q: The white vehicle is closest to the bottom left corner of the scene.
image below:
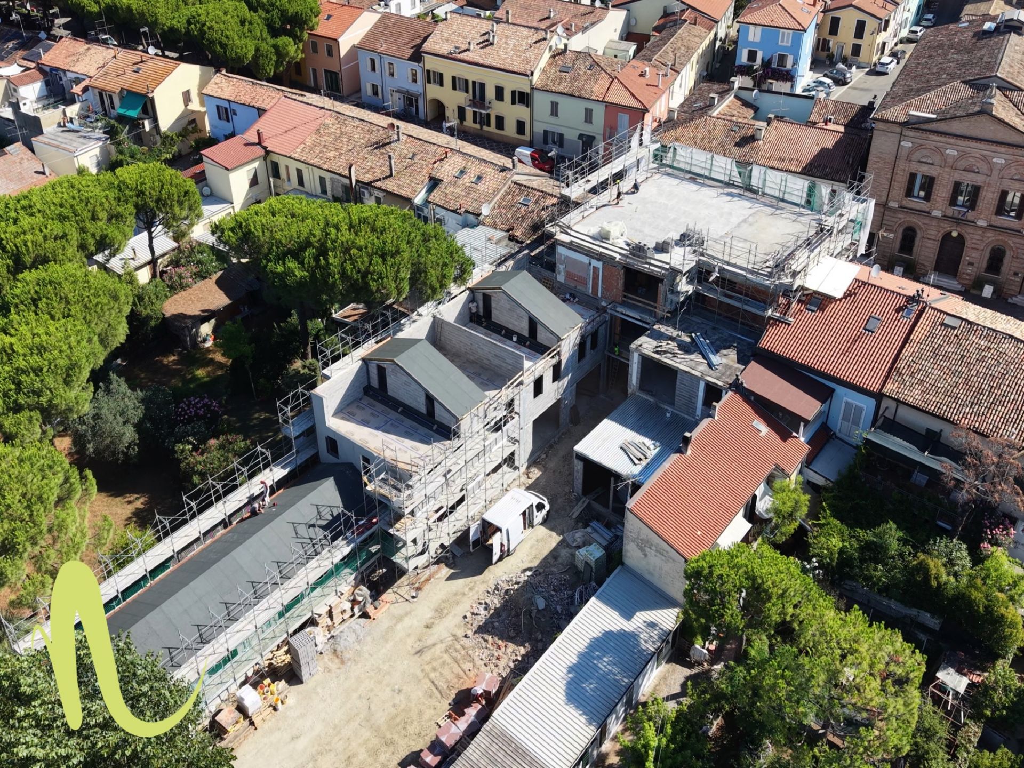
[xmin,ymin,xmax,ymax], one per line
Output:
[461,479,549,562]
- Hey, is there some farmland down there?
No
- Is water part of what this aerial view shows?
No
